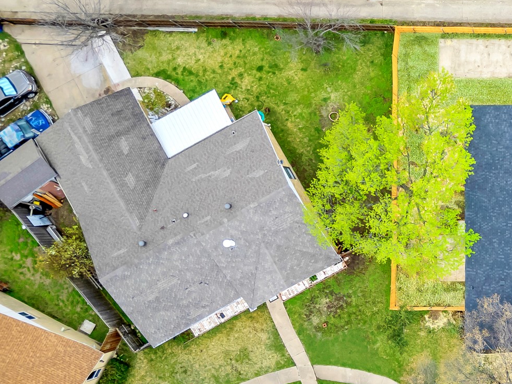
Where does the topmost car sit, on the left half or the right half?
left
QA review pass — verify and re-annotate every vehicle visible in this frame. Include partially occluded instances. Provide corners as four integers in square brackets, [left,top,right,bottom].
[0,107,55,157]
[0,69,43,118]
